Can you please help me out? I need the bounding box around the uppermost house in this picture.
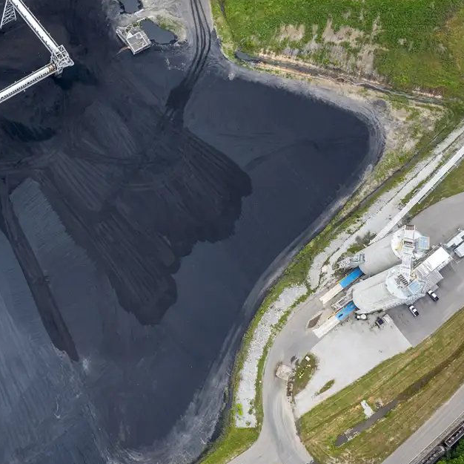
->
[115,28,152,55]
